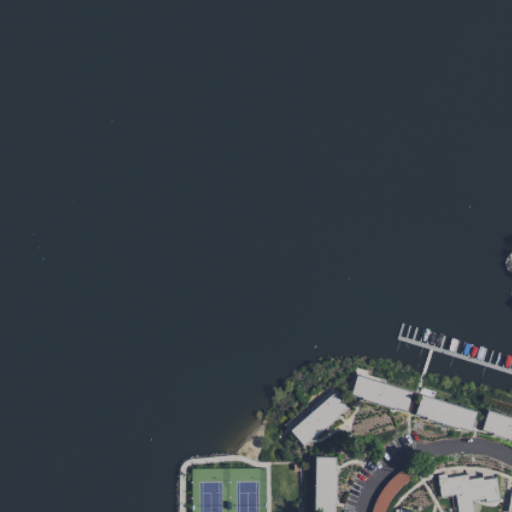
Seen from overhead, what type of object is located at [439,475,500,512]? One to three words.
building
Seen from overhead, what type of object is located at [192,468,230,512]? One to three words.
tennis court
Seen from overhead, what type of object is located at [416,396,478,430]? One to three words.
building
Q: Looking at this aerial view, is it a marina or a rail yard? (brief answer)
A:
marina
